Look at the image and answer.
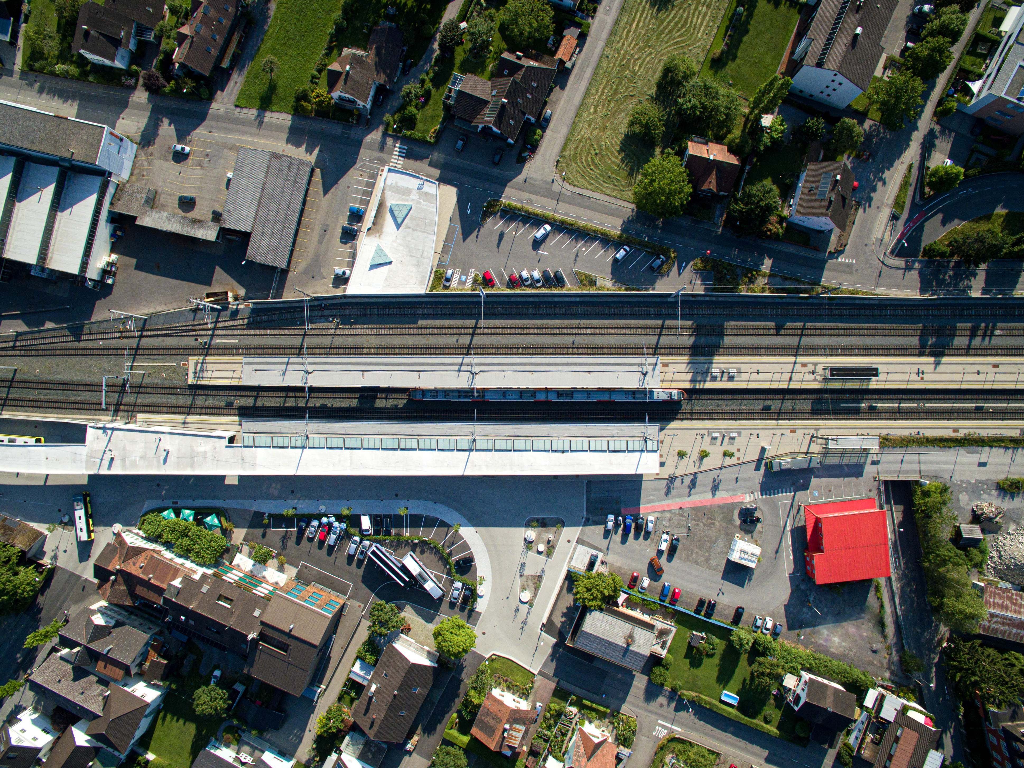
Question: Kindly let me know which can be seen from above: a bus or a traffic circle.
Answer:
bus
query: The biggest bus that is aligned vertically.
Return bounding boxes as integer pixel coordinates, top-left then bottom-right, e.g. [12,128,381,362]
[73,490,96,544]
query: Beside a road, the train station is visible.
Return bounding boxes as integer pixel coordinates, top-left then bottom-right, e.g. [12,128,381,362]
[0,357,1024,478]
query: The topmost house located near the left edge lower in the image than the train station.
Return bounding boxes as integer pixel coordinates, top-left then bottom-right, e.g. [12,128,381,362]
[0,508,50,554]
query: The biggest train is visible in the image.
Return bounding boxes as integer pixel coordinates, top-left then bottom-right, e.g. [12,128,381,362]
[409,388,685,400]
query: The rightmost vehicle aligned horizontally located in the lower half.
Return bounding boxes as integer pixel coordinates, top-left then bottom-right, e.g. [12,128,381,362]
[766,455,819,472]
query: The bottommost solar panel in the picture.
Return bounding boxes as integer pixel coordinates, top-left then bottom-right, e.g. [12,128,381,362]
[816,172,833,199]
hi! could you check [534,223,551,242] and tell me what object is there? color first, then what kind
white car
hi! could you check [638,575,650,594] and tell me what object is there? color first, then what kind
white vehicle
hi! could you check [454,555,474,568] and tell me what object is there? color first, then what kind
black vehicle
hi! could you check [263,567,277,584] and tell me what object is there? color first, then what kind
white umbrella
